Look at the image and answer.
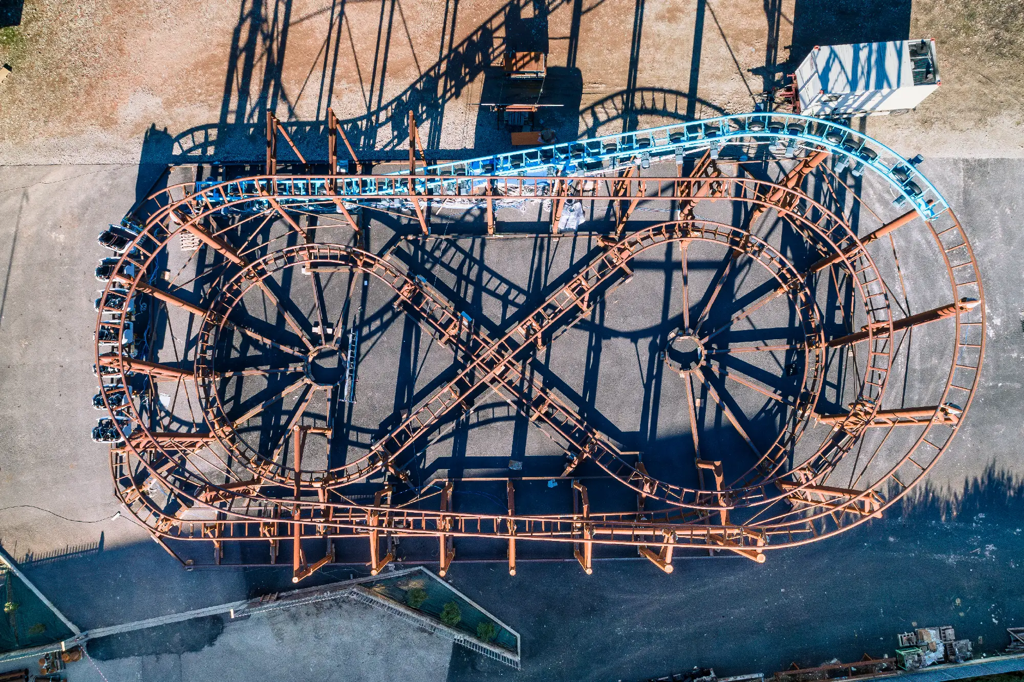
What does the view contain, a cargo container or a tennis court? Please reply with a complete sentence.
Looking from above, you can make out a cargo container.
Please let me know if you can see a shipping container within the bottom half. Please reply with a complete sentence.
No, within the bottom half there is no shipping container.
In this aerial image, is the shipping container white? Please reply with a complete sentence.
Yes, white is the color of the shipping container.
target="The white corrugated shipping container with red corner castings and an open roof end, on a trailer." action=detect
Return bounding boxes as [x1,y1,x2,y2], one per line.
[798,39,940,114]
